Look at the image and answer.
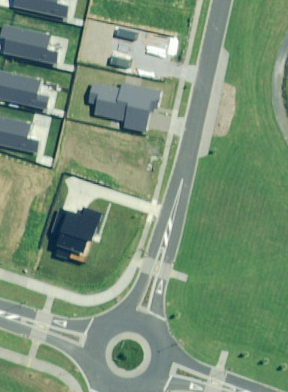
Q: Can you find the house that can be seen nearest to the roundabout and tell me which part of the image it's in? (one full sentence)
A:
The house that can be seen nearest to the roundabout is located in the left region of the scene.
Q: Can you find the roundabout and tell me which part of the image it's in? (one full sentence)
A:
The roundabout sits in the bottom section of the image.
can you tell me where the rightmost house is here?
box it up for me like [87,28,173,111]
[87,82,162,132]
